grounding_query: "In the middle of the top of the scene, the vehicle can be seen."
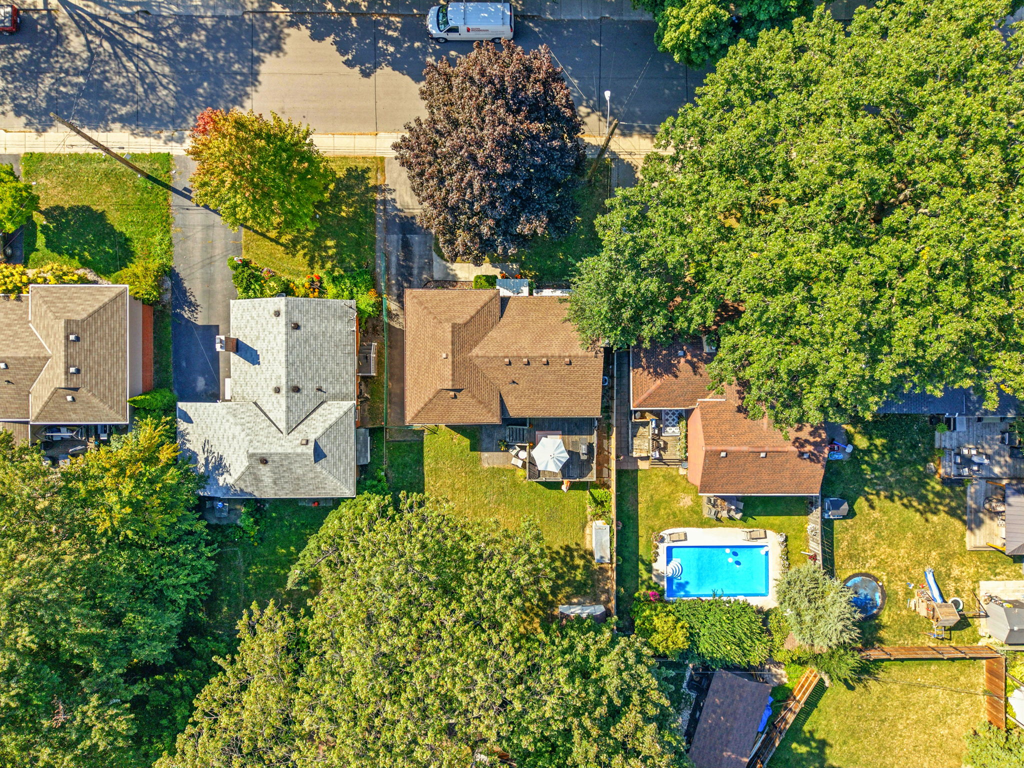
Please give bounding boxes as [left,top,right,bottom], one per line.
[427,0,513,44]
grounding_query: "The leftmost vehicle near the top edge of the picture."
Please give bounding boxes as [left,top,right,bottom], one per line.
[0,5,27,40]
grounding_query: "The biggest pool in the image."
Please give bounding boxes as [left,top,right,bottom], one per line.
[659,542,773,601]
